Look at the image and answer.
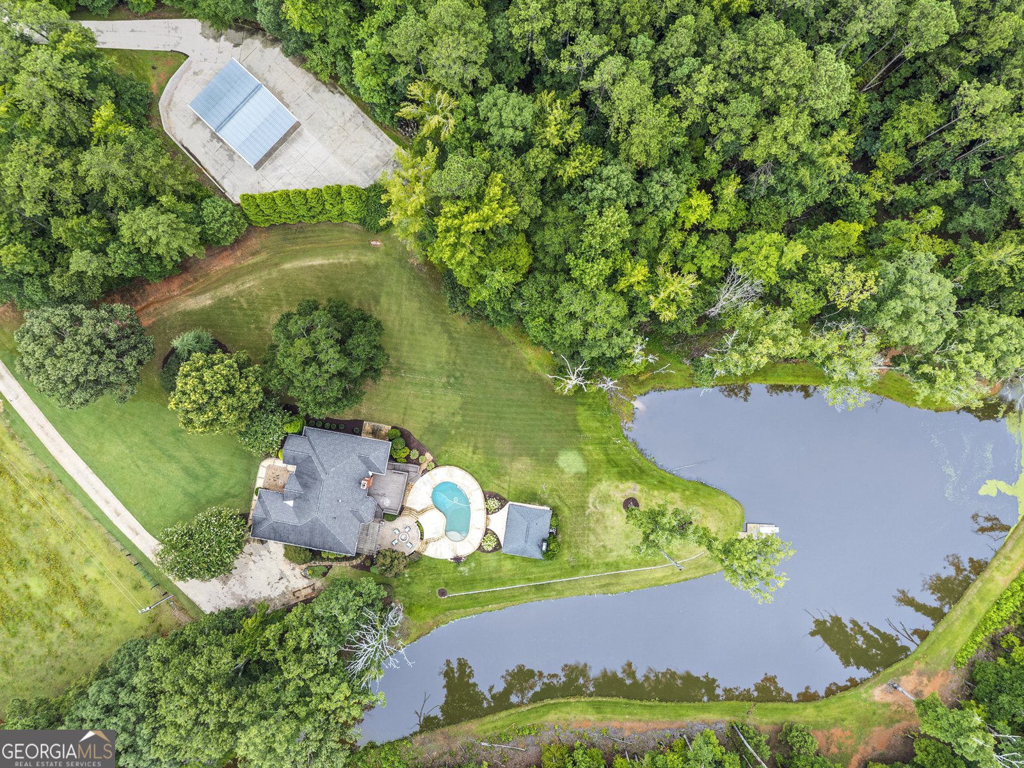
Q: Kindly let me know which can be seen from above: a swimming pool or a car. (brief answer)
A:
swimming pool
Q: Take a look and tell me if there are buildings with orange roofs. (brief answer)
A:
No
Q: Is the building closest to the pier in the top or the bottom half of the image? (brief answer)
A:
bottom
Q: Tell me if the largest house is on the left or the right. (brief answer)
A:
left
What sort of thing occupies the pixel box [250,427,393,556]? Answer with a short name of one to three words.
house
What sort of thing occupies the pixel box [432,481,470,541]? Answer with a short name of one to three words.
swimming pool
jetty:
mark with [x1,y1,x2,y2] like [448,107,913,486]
[737,523,779,540]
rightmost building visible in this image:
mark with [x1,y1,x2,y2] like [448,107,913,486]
[502,503,552,560]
